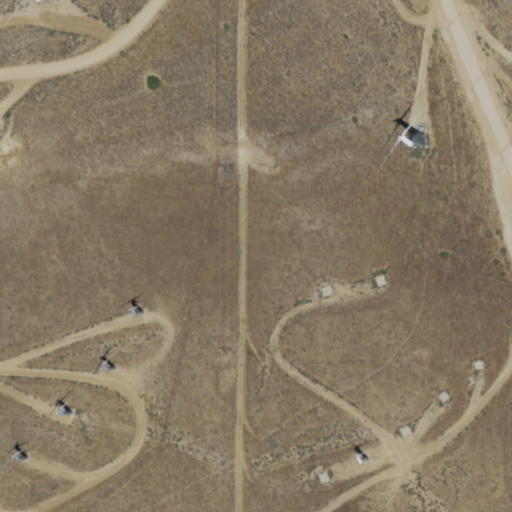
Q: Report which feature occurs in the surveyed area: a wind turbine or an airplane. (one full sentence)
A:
The image shows a wind turbine.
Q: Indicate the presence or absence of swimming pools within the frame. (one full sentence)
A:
No, the photo shows no swimming pool.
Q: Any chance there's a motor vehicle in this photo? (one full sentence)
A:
No, the frame has no motor vehicle in it.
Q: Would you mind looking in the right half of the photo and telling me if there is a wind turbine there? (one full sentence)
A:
Yes, a wind turbine is visible in the right half of the photo.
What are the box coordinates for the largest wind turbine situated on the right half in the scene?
[384,107,428,158]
